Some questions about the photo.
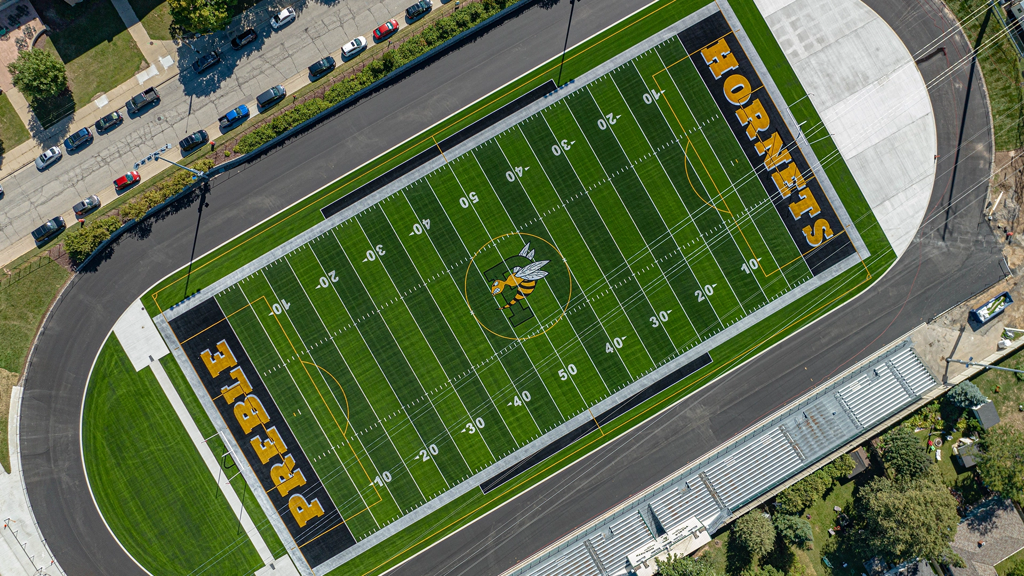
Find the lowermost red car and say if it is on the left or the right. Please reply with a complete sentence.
The lowermost red car sits on the left side.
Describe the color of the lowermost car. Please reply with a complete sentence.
The lowermost car is black.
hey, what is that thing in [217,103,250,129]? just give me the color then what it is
blue truck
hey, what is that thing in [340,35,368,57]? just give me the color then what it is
white car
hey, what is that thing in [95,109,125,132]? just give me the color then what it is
black car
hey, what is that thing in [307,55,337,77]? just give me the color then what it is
black car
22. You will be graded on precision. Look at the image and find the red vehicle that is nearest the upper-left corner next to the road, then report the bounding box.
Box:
[112,169,142,191]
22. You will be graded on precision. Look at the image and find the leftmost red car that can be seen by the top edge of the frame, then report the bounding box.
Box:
[372,19,400,41]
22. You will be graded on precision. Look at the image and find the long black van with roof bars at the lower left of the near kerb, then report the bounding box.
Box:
[30,217,66,242]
